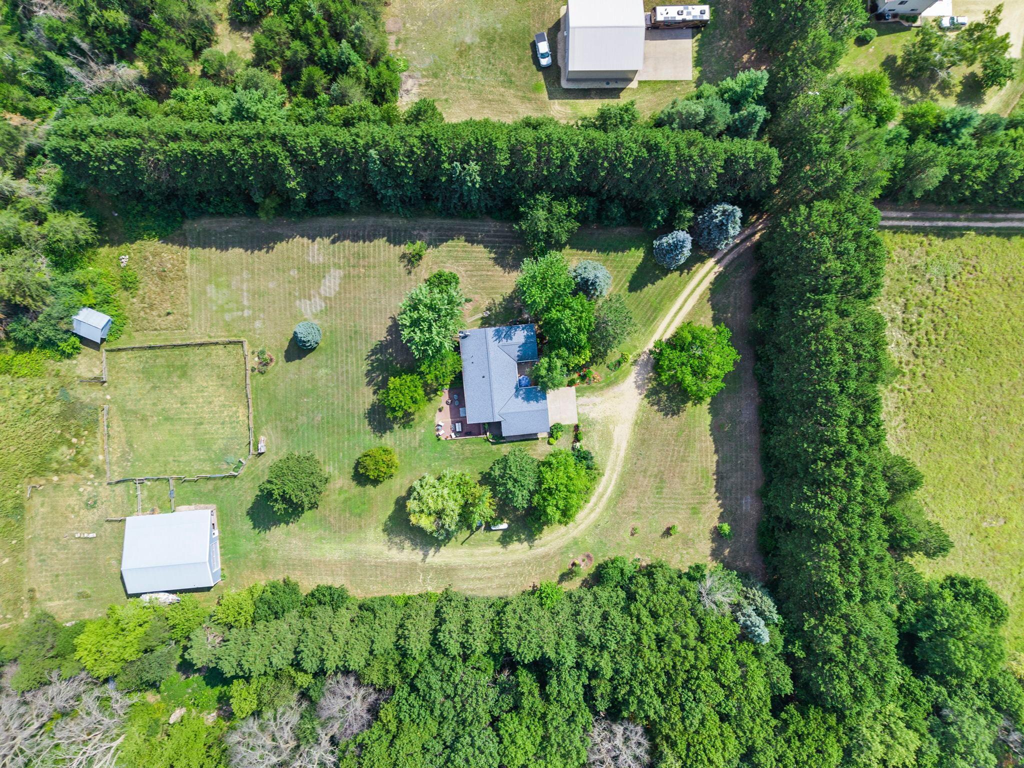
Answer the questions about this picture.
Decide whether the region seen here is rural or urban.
rural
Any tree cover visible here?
Yes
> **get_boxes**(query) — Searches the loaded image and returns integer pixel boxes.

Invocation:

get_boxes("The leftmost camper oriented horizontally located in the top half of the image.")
[647,6,709,30]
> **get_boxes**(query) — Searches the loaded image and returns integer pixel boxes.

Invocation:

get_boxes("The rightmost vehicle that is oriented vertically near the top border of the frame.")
[534,31,552,68]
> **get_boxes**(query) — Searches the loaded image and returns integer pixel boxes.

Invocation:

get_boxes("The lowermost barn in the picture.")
[120,509,222,595]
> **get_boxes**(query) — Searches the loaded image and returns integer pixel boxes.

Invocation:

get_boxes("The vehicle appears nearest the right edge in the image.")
[940,12,971,29]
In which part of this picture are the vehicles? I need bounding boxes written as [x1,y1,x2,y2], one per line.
[534,31,552,68]
[940,12,971,29]
[647,6,709,30]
